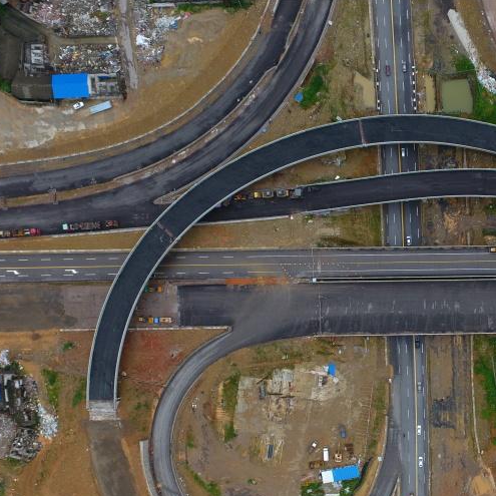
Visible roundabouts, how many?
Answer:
none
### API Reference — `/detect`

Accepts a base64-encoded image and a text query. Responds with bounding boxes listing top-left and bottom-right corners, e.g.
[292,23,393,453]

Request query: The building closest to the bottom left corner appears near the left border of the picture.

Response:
[7,428,41,460]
